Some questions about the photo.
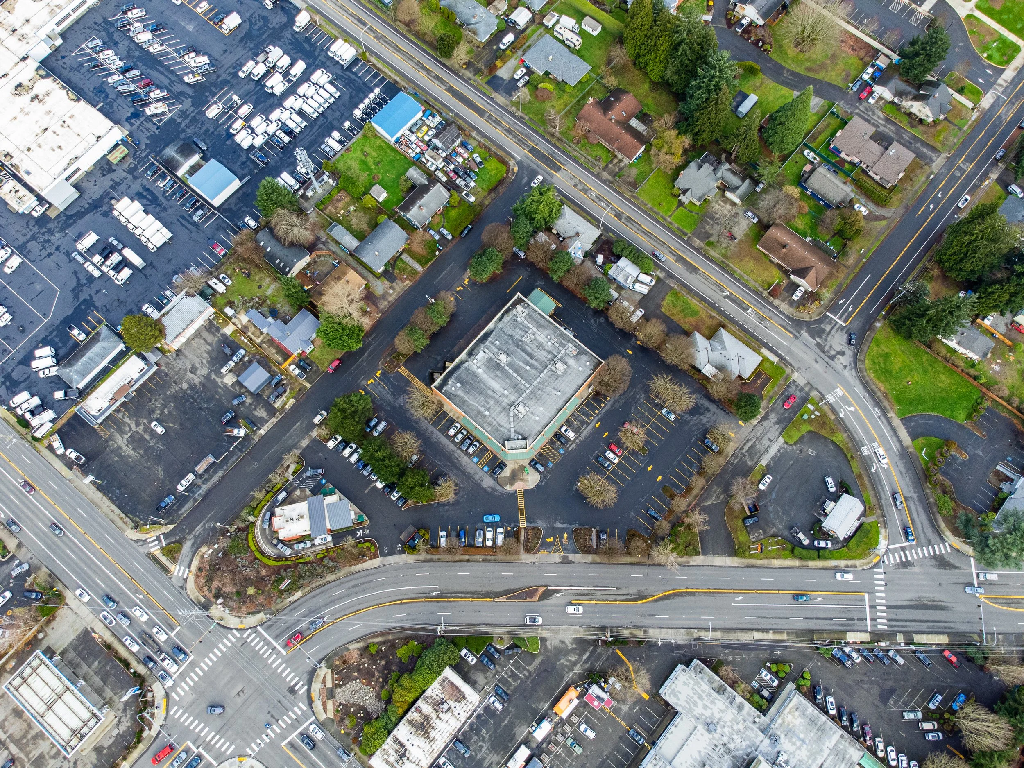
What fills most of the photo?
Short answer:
paved ground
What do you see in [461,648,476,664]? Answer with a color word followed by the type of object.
white car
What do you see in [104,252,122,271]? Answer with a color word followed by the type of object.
white vehicle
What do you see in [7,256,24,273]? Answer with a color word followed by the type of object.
white vehicle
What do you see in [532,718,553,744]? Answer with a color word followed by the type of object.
white truck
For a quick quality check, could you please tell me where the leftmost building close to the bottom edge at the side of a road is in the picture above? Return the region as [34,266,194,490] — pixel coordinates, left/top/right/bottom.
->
[369,666,483,768]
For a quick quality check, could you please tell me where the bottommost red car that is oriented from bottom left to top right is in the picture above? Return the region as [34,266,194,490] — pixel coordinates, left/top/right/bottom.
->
[155,744,172,764]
